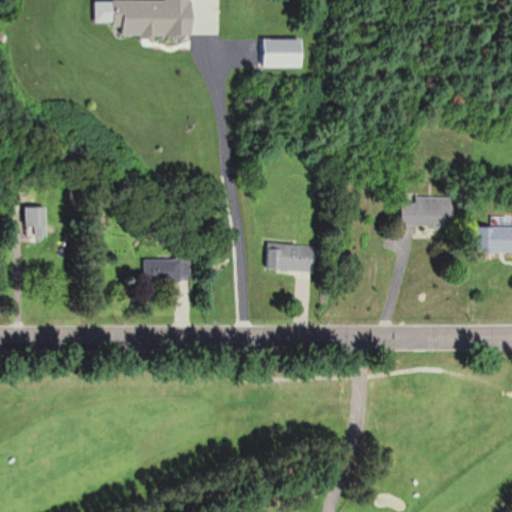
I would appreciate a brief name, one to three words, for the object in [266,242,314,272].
house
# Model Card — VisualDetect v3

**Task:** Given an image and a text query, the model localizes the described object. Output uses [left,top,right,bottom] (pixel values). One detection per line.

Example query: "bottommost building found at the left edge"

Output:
[24,207,47,242]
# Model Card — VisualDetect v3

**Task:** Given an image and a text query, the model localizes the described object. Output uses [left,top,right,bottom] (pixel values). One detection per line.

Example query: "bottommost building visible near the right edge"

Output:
[480,227,512,261]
